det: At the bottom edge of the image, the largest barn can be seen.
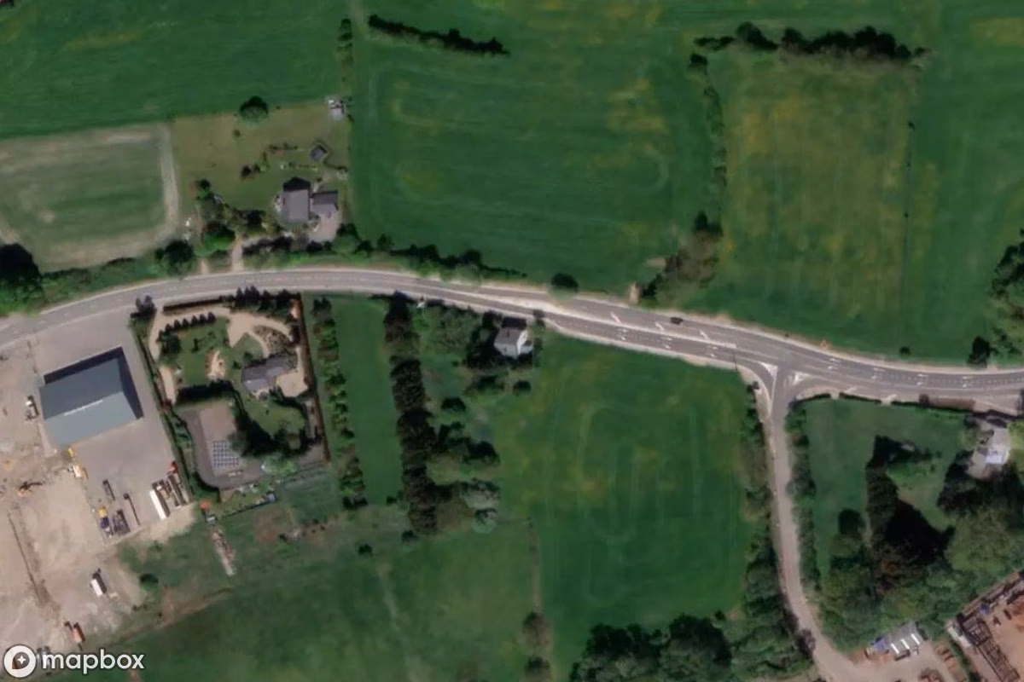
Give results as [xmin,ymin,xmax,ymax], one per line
[886,620,927,657]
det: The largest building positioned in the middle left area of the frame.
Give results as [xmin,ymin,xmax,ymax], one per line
[37,358,144,447]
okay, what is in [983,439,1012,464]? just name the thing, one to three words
house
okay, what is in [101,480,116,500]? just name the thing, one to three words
vehicle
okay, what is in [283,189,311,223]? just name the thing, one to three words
house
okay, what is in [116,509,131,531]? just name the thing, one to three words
vehicle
